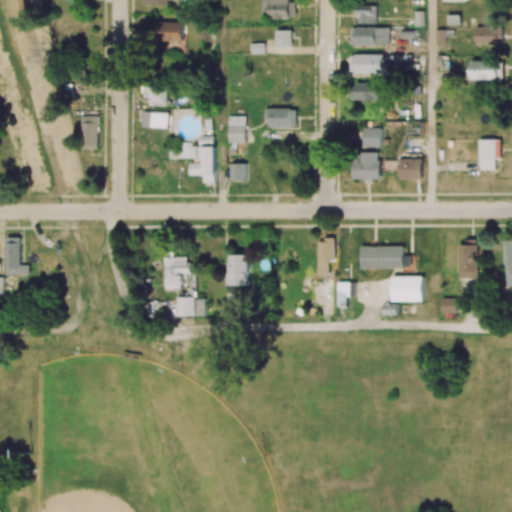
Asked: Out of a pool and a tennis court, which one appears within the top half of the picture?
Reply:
pool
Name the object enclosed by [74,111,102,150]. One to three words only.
house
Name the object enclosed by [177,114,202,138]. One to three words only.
swimming pool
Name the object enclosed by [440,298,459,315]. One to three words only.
shed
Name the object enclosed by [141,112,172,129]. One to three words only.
building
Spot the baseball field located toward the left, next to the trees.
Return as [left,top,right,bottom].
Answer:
[37,353,280,512]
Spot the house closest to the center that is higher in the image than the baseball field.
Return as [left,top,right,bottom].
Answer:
[227,255,247,287]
